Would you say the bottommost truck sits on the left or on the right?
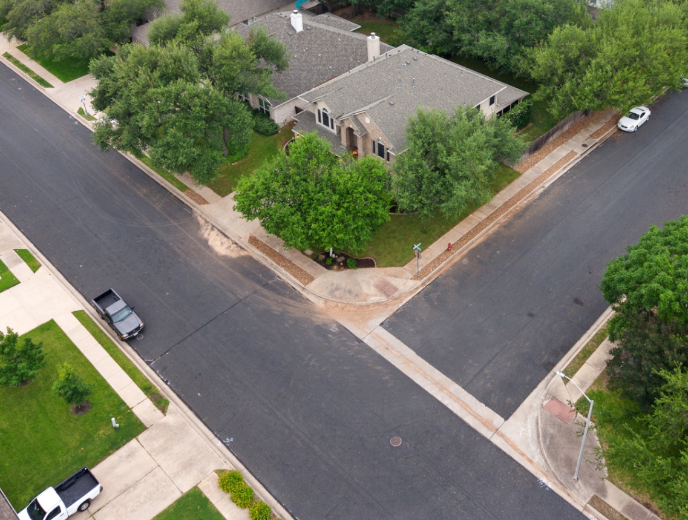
left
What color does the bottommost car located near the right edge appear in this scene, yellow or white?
white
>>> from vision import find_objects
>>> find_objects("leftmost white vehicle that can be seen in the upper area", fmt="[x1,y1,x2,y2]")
[619,107,655,136]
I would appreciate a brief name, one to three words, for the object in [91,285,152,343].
truck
